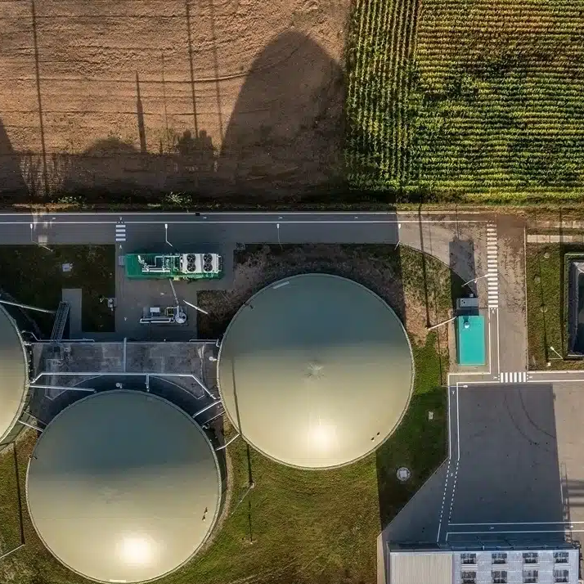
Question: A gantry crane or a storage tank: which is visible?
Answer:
storage tank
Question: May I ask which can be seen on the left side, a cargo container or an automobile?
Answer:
cargo container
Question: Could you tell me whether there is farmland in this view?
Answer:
Yes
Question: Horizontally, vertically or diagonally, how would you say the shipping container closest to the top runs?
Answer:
horizontally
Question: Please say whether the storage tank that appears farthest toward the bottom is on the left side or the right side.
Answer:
left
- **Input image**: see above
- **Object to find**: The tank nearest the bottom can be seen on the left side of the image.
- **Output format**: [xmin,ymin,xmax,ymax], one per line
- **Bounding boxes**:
[27,390,224,584]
